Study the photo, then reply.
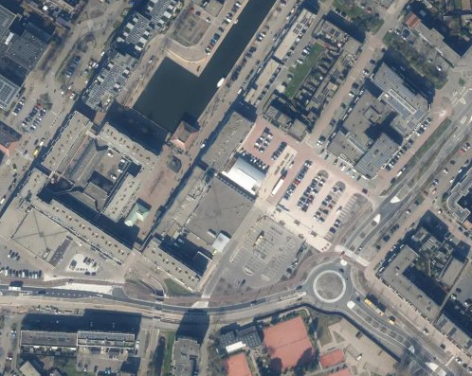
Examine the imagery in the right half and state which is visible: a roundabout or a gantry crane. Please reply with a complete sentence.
The feature located in the right half is a roundabout.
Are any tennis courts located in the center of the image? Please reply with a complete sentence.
No, the scene shows no tennis court in the center of the image.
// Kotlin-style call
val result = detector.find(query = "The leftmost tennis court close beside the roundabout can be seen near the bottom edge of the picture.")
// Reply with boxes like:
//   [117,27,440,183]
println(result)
[263,316,317,372]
